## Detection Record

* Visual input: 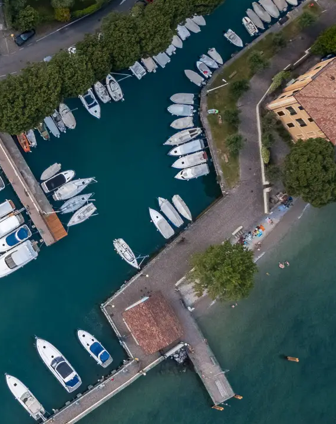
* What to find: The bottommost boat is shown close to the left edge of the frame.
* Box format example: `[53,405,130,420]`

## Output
[5,373,46,422]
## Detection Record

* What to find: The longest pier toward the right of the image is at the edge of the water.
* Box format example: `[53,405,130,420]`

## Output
[189,312,235,405]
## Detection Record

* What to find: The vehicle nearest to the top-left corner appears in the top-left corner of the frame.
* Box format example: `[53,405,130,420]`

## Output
[12,28,37,47]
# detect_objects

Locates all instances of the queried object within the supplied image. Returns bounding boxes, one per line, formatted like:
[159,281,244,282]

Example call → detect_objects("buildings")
[274,57,336,145]
[120,292,185,355]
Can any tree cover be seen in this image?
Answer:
Yes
